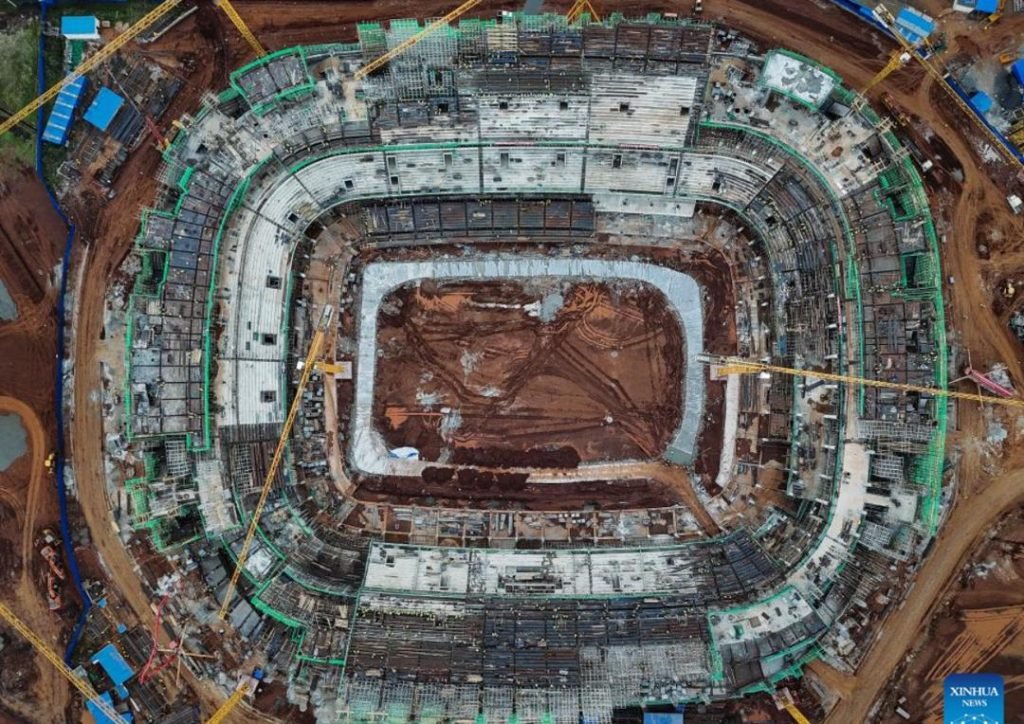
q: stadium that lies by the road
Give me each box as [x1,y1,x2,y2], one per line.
[124,27,945,703]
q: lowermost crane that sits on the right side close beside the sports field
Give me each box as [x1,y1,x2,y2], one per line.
[694,362,1024,407]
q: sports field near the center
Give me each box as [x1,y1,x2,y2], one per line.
[352,256,708,486]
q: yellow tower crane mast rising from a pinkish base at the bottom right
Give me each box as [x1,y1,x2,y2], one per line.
[776,687,812,724]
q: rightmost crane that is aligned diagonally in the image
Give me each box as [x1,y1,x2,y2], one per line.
[855,7,1024,165]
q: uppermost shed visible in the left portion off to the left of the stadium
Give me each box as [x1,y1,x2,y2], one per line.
[62,16,100,41]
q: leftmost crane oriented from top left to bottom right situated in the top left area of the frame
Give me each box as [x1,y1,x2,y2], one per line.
[77,42,170,155]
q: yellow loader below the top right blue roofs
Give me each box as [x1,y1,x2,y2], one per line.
[982,9,1004,26]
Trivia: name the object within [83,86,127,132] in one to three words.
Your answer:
shed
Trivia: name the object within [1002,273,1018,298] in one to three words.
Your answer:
work vehicle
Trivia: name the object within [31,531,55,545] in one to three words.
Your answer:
work vehicle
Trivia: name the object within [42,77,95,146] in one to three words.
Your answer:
shed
